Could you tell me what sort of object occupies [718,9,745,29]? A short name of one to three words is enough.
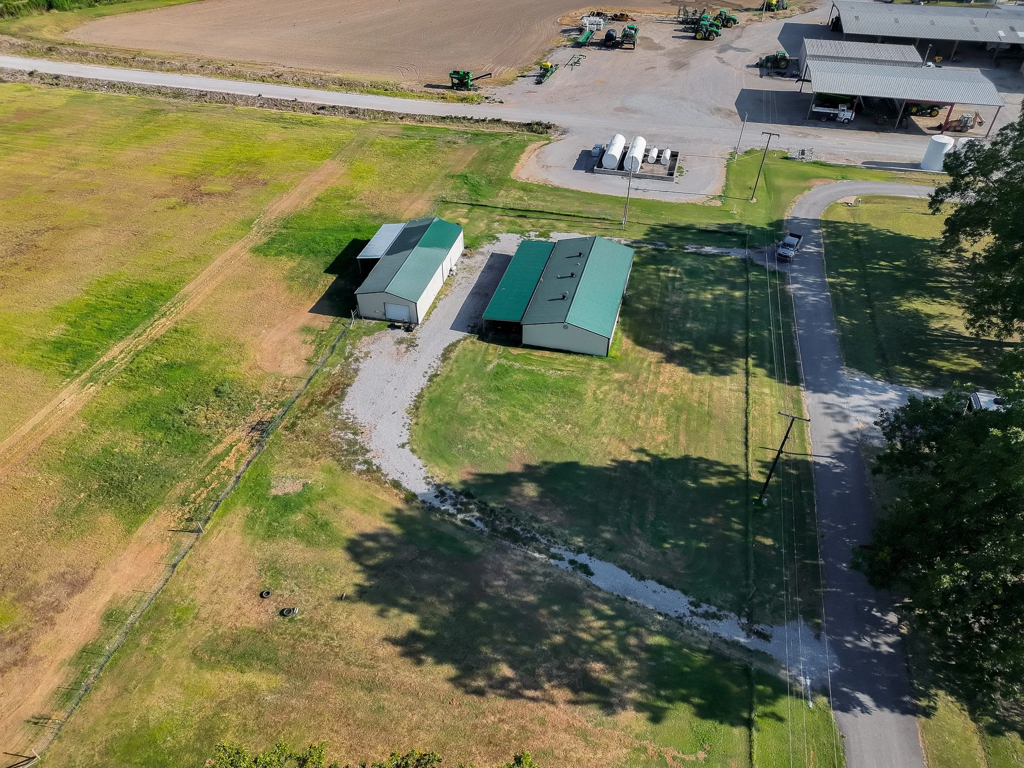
work vehicle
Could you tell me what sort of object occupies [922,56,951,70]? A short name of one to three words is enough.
vehicle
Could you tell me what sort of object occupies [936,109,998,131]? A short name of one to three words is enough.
work vehicle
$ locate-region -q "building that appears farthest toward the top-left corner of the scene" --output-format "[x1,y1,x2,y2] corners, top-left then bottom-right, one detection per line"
[352,215,464,329]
